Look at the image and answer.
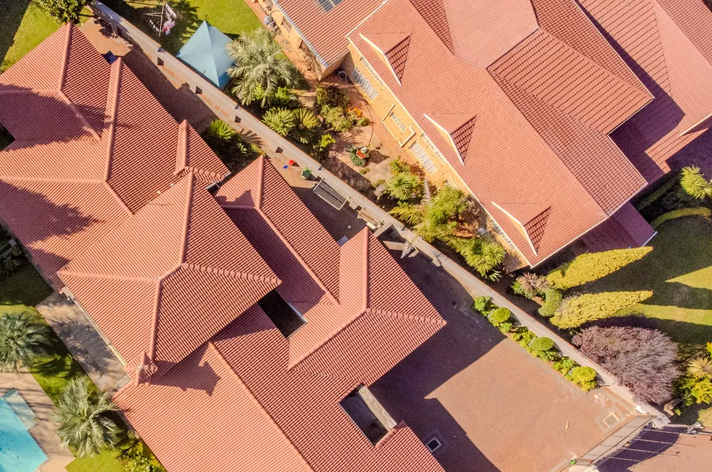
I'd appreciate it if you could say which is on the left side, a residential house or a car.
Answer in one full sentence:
Visible on the left side is a residential house.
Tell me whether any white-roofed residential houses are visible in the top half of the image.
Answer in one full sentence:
No, I can find no white-roofed residential house in the top half of the image.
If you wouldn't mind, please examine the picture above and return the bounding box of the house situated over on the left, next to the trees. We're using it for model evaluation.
[0,21,447,472]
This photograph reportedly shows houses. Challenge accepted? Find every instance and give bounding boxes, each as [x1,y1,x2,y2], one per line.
[253,0,712,267]
[0,21,447,472]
